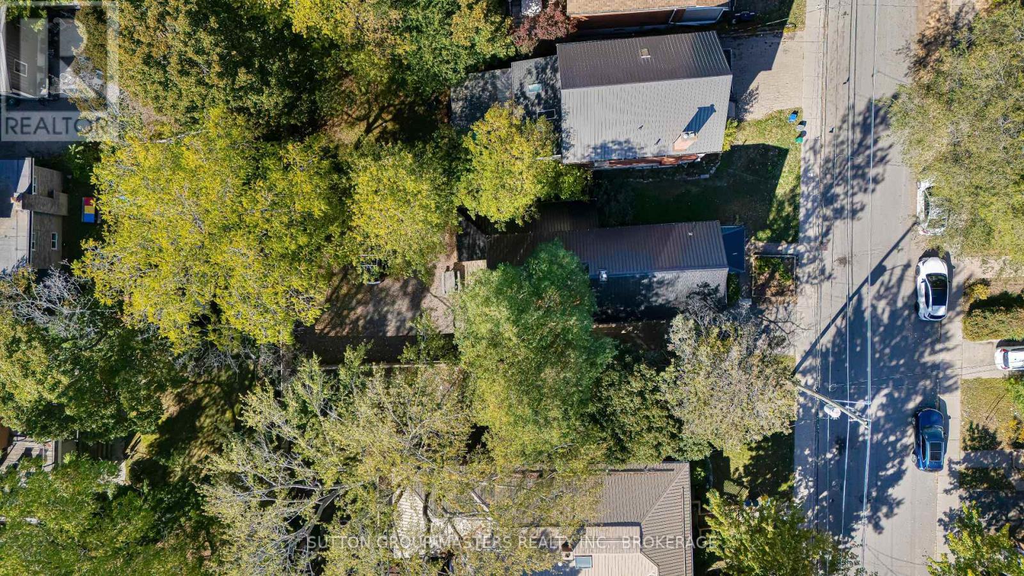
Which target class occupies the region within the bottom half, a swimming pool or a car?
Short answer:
car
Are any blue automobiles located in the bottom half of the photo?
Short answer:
Yes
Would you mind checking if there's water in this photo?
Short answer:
No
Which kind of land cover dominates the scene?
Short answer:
trees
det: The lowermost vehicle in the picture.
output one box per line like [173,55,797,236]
[911,406,948,471]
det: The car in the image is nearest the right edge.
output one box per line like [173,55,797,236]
[991,344,1024,370]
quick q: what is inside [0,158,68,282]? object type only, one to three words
house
